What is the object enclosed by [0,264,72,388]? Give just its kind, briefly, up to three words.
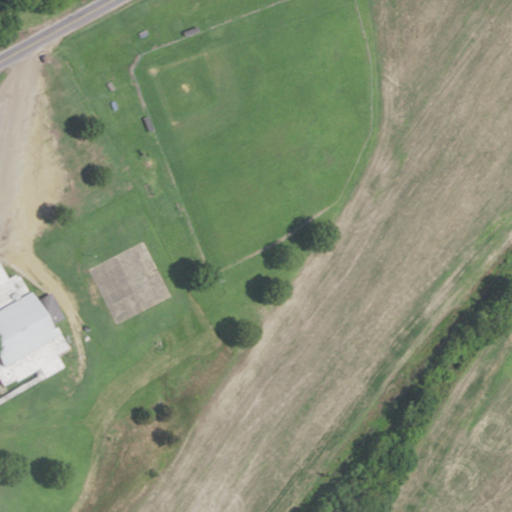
building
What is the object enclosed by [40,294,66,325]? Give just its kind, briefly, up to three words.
shed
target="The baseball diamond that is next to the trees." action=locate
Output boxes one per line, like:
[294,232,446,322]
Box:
[134,0,372,269]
